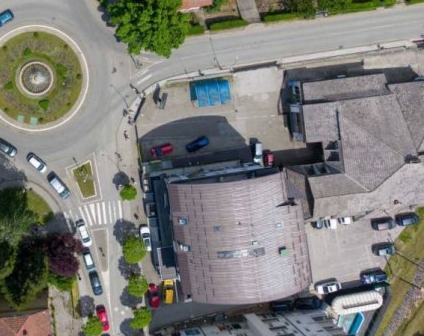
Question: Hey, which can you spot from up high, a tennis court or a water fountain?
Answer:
water fountain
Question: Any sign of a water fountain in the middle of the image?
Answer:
No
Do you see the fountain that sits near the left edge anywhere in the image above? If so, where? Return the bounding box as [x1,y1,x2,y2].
[18,59,56,97]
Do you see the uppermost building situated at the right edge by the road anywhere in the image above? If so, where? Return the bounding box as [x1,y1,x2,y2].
[272,74,424,221]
